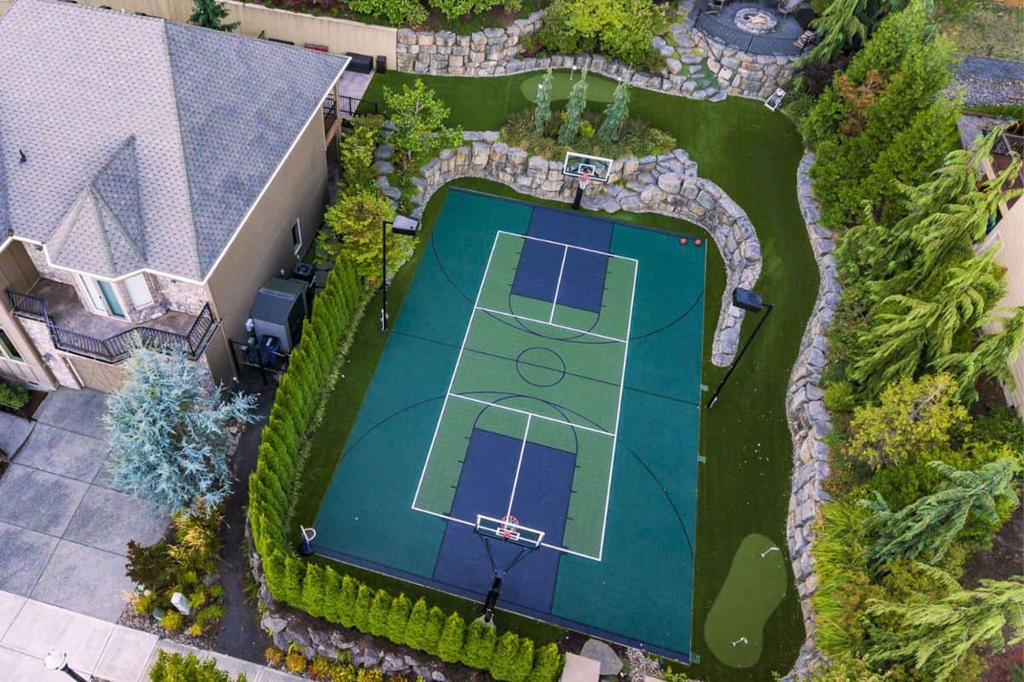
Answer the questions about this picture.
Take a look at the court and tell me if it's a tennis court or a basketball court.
basketball court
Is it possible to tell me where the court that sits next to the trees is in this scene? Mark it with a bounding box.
[313,188,709,665]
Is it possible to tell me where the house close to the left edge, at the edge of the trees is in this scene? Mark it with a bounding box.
[0,0,351,408]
